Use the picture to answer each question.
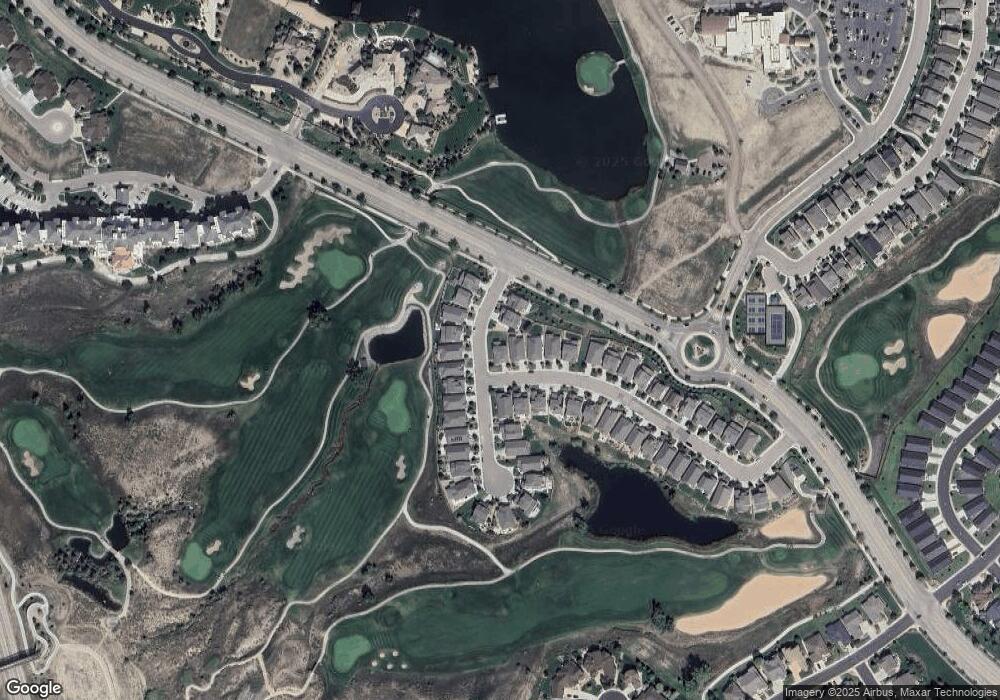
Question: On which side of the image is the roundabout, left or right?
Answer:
right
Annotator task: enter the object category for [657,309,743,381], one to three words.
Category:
roundabout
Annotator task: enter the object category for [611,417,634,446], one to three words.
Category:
house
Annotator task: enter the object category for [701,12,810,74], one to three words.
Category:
building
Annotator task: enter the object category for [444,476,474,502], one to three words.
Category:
house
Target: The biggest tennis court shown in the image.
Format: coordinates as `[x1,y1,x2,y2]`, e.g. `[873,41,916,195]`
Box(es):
[767,306,785,345]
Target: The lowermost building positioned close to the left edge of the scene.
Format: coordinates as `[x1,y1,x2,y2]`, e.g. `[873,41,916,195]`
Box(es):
[0,185,256,260]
